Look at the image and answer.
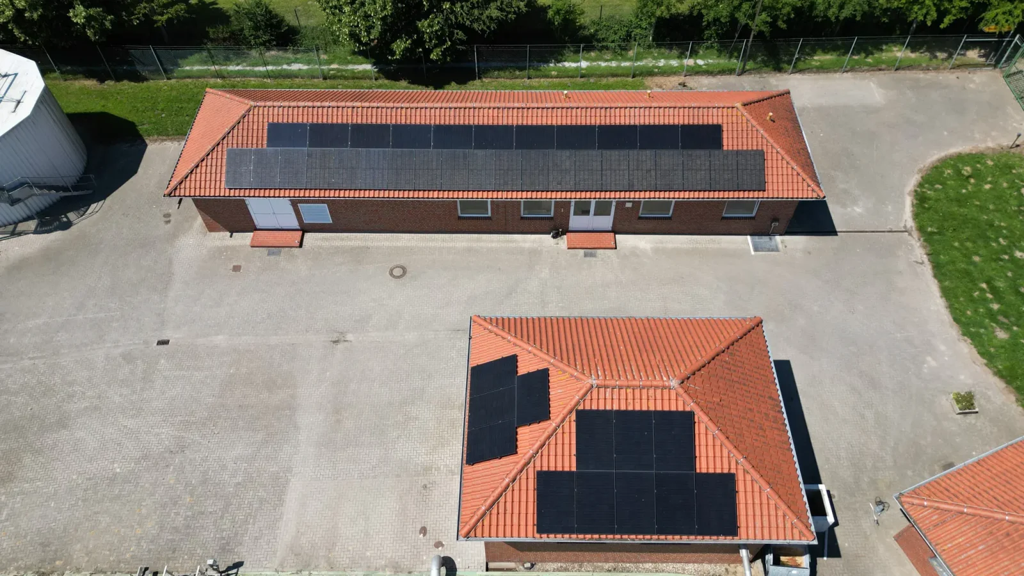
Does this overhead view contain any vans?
No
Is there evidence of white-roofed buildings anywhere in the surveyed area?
No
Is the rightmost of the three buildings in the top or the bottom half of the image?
bottom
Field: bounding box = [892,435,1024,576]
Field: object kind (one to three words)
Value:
building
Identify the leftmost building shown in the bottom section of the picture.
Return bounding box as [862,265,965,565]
[454,312,823,563]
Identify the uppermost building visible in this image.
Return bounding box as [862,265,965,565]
[160,87,830,235]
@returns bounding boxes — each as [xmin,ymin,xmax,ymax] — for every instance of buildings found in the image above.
[160,87,830,235]
[454,312,823,563]
[892,435,1024,576]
